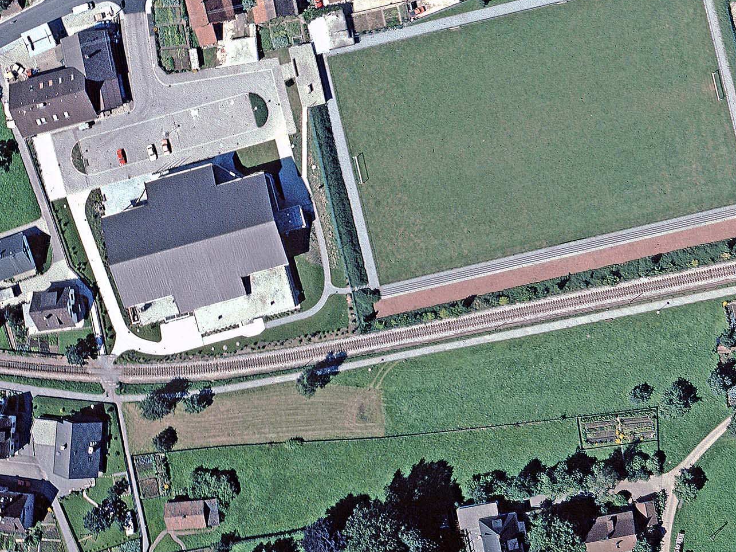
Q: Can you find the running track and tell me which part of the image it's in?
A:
right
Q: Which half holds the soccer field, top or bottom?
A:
top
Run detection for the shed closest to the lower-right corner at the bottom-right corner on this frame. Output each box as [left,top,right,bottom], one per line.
[635,500,658,530]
